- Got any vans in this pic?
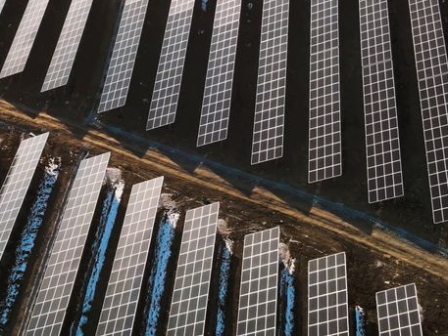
No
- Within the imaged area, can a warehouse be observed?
No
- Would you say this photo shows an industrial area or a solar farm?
solar farm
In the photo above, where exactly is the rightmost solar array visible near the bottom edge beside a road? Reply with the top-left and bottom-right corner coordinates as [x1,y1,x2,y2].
[376,284,419,336]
